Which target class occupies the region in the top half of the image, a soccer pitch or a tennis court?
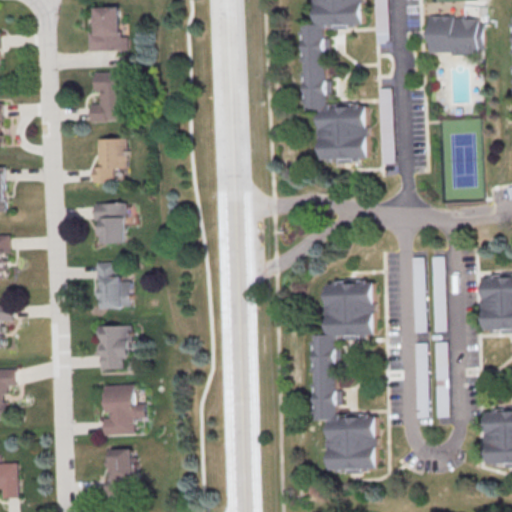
tennis court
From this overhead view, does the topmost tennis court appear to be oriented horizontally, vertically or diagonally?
vertically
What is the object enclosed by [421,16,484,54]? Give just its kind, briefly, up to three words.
building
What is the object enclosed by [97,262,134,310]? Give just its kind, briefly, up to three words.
house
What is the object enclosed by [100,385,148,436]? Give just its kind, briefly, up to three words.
house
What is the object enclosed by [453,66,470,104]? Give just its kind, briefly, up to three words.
swimming pool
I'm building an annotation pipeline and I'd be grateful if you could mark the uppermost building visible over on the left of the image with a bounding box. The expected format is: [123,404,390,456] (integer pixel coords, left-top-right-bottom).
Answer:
[87,8,132,50]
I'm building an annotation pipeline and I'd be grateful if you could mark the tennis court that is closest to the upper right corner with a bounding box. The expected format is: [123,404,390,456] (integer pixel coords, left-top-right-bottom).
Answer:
[443,118,482,203]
